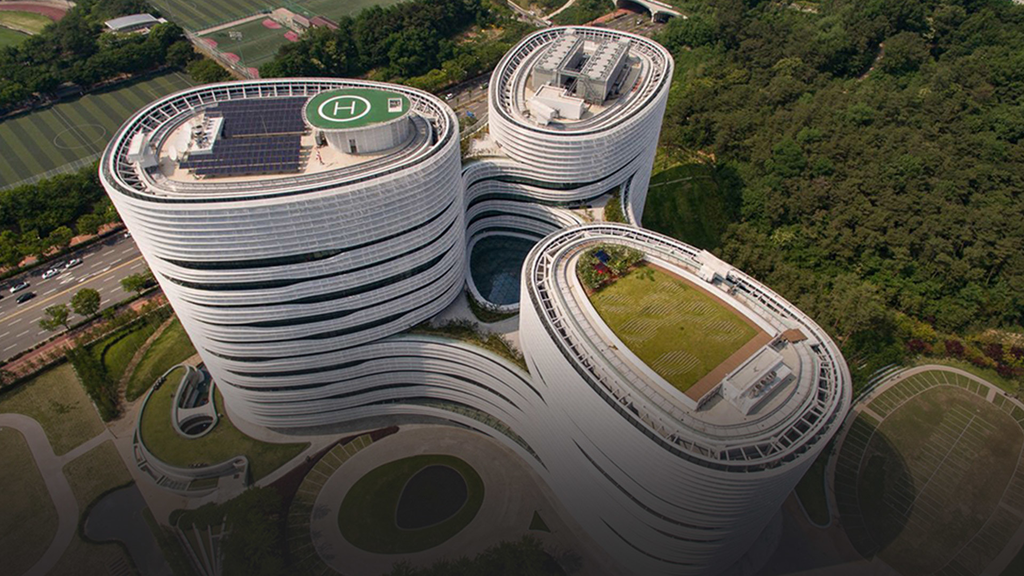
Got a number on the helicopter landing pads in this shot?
1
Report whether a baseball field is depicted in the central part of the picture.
No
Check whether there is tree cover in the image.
Yes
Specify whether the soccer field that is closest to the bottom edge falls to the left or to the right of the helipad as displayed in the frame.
on its left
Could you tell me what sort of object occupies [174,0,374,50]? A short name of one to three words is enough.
sports field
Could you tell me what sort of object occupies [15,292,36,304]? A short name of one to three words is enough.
vehicle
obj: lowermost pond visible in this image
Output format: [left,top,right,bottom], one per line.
[397,465,466,527]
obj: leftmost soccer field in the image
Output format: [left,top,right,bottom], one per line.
[0,63,205,188]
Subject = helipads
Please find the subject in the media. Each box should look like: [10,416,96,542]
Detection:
[297,84,419,161]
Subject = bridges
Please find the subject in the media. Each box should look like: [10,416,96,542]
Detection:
[643,0,708,26]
